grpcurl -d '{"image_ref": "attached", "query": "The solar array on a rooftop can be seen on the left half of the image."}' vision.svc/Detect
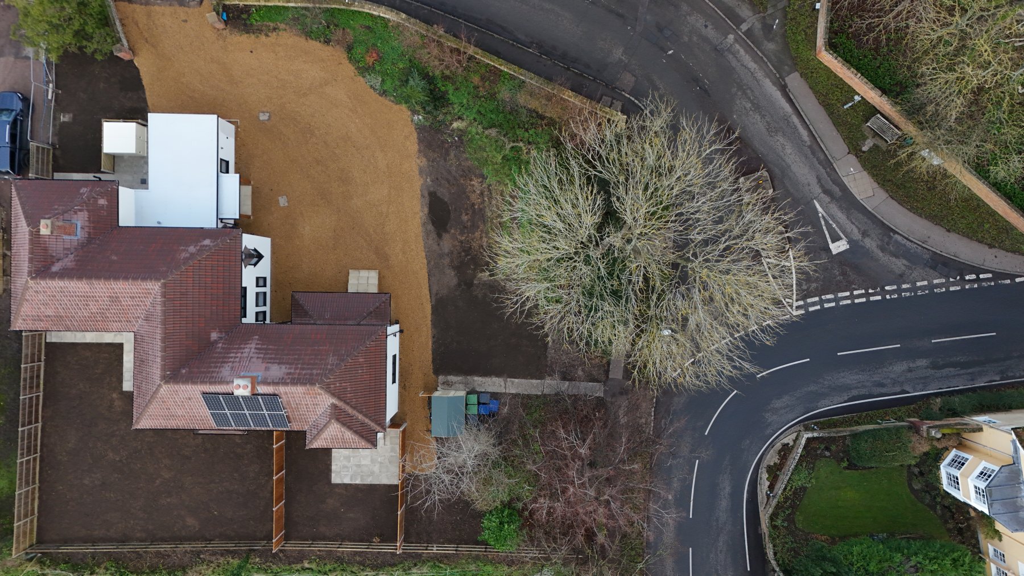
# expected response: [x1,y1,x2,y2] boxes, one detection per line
[201,394,289,428]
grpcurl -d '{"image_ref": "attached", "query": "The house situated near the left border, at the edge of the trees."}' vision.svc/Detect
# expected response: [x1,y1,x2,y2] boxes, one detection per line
[8,114,401,450]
